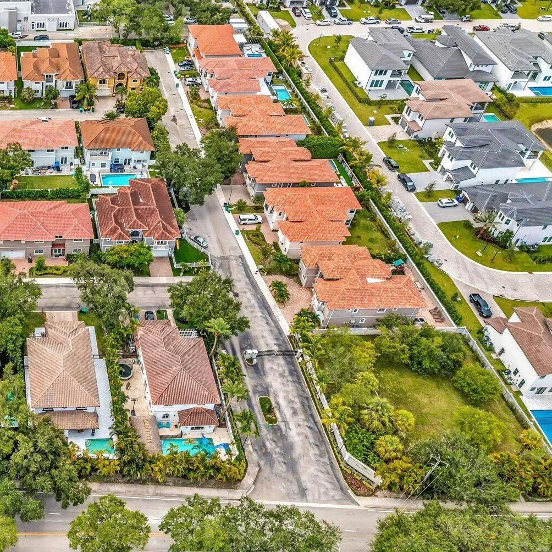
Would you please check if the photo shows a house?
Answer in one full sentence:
Yes, looking at the shot, I can spot a house.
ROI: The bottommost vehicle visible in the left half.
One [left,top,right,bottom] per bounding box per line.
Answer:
[144,303,156,319]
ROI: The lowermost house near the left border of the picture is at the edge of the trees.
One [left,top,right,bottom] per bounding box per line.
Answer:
[26,321,101,437]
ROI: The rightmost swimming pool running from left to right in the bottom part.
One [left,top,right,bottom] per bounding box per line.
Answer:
[159,439,218,455]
